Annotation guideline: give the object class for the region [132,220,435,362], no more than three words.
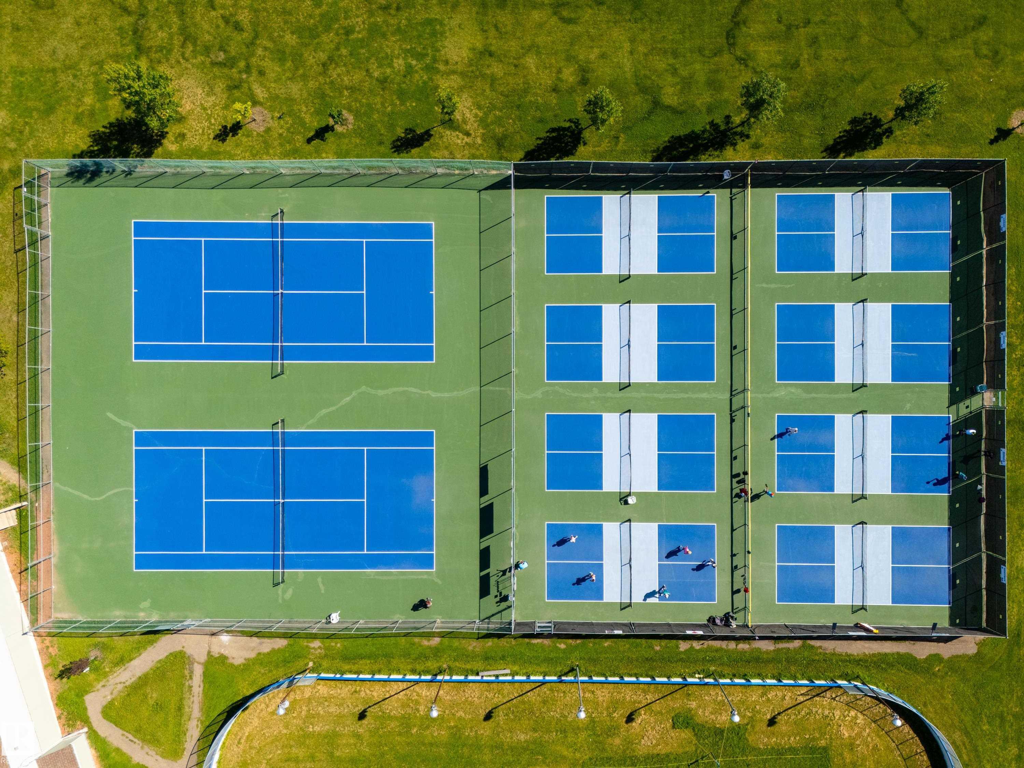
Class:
tennis court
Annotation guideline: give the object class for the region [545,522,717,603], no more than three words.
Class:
sports court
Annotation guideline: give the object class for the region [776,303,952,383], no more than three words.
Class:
sports court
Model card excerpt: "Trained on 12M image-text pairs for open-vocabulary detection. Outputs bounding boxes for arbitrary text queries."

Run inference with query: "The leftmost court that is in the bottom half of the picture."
[133,429,435,571]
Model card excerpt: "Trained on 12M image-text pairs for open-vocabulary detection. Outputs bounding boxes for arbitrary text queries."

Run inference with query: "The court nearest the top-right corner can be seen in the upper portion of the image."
[776,192,952,273]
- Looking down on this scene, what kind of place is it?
sports ground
